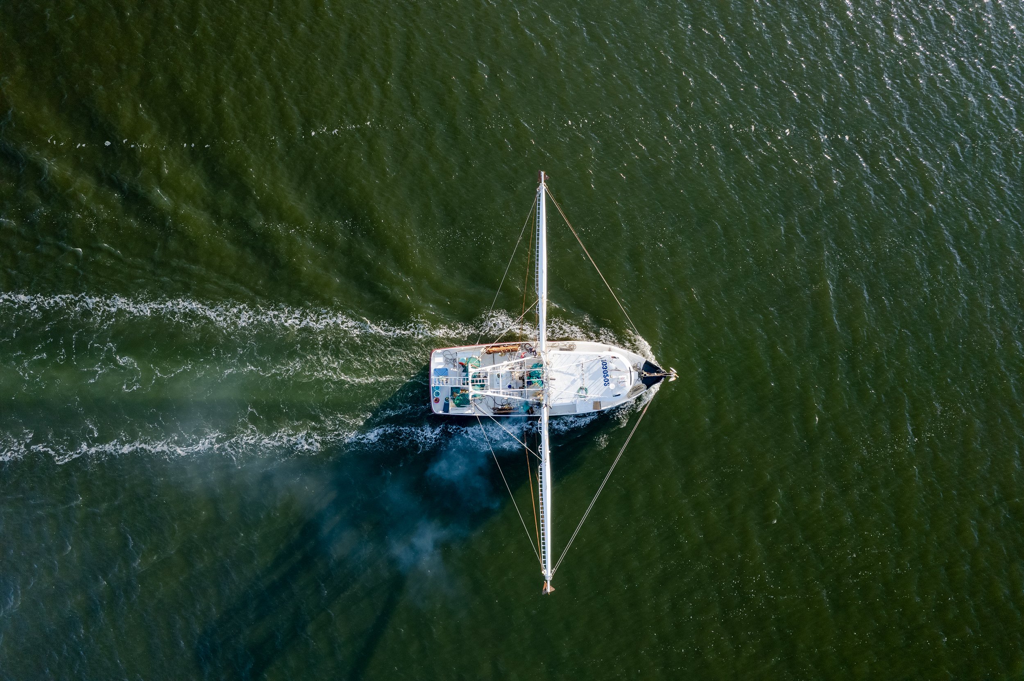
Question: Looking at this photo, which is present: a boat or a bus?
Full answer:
The one in the frame is a boat.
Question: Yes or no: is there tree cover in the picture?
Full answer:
No, the picture contains no tree cover.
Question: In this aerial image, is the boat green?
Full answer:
No, the boat is actually white.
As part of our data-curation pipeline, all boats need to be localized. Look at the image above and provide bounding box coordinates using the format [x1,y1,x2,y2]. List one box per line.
[428,171,673,592]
